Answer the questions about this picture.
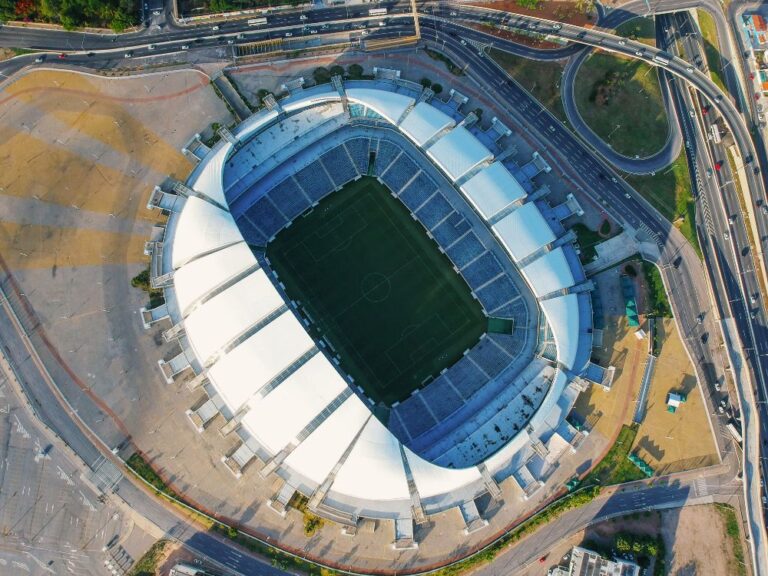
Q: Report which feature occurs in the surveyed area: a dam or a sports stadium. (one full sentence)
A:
It is a sports stadium that can be seen here.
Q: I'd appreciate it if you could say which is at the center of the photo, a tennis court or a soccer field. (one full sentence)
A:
What appears at the center of the photo is a soccer field.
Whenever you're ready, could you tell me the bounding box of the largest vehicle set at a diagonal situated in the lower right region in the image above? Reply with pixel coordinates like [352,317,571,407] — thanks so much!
[723,424,741,442]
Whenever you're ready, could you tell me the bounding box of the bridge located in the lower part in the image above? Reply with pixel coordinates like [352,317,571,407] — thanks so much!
[697,214,768,576]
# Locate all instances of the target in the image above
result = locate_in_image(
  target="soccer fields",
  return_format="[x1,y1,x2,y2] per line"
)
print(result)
[265,175,489,409]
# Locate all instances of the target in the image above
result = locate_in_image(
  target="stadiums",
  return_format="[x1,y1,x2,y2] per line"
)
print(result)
[140,67,616,549]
